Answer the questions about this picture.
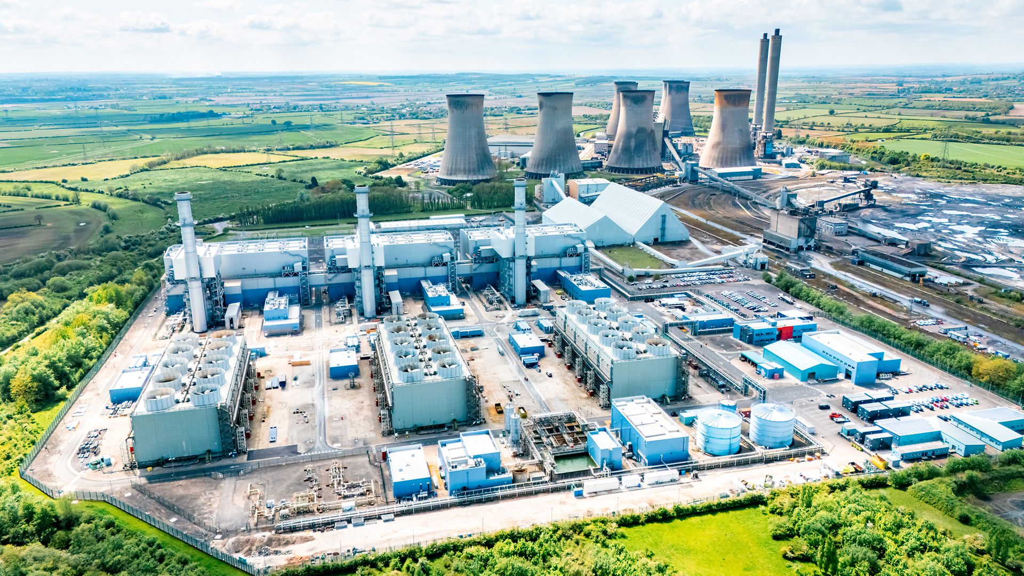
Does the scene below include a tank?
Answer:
Yes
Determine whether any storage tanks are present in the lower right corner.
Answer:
Yes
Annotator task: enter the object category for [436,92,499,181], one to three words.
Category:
cooling tower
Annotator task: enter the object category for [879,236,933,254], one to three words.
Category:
building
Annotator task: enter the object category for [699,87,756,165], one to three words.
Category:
cooling tower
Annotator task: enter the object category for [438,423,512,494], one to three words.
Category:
house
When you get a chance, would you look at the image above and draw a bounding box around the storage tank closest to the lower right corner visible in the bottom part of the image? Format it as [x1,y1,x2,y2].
[750,400,800,449]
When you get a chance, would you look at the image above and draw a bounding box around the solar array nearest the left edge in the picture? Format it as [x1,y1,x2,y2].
[885,417,934,433]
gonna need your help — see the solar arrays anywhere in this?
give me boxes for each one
[885,417,934,433]
[975,402,1024,419]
